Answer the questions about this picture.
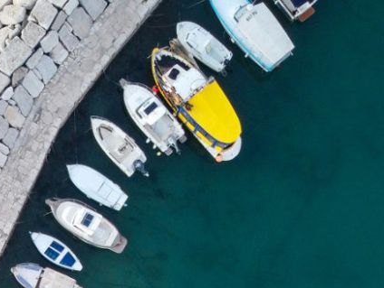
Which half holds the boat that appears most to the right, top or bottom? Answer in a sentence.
You can find the boat that appears most to the right in the top half.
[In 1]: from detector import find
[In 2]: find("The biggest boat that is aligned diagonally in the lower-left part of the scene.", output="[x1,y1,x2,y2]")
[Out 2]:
[41,195,129,257]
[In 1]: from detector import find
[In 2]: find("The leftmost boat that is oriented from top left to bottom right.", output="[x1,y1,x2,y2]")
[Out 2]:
[28,231,82,272]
